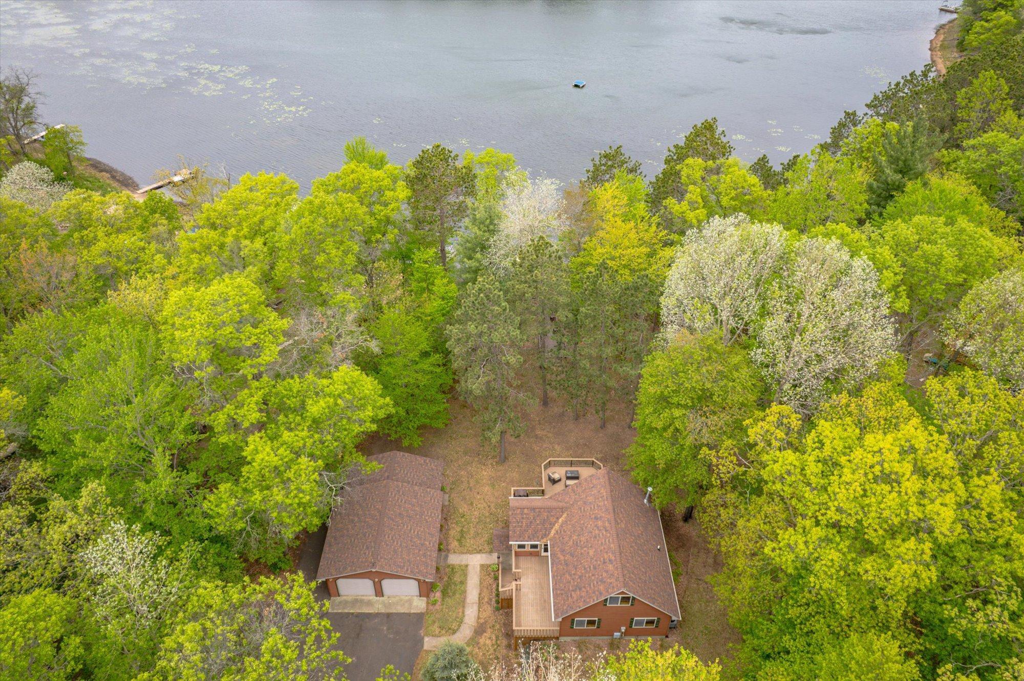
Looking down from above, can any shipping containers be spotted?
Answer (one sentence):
No, I can see no shipping container in this picture.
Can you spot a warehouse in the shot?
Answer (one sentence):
No, no warehouse is visible in the view.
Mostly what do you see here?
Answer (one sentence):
Most of the picture is covered by trees.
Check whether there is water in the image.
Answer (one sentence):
Yes, the picture does contain water.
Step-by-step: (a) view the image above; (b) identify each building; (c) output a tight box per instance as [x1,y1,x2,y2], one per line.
[316,451,444,598]
[493,470,682,641]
